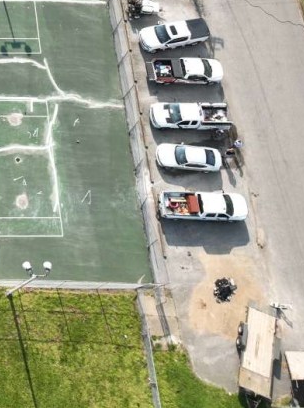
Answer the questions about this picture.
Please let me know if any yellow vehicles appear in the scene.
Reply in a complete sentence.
No, I find no yellow vehicle anywhere in the image.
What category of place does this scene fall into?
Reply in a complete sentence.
What you see here is a sports ground.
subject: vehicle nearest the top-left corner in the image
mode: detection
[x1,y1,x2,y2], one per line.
[126,0,164,19]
